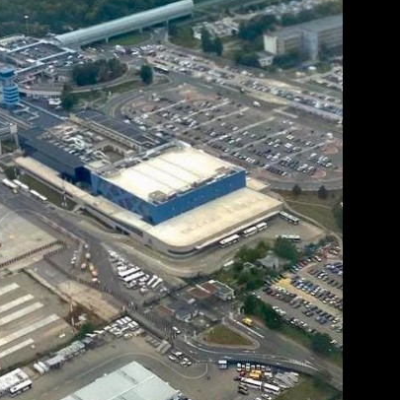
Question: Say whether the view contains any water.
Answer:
No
